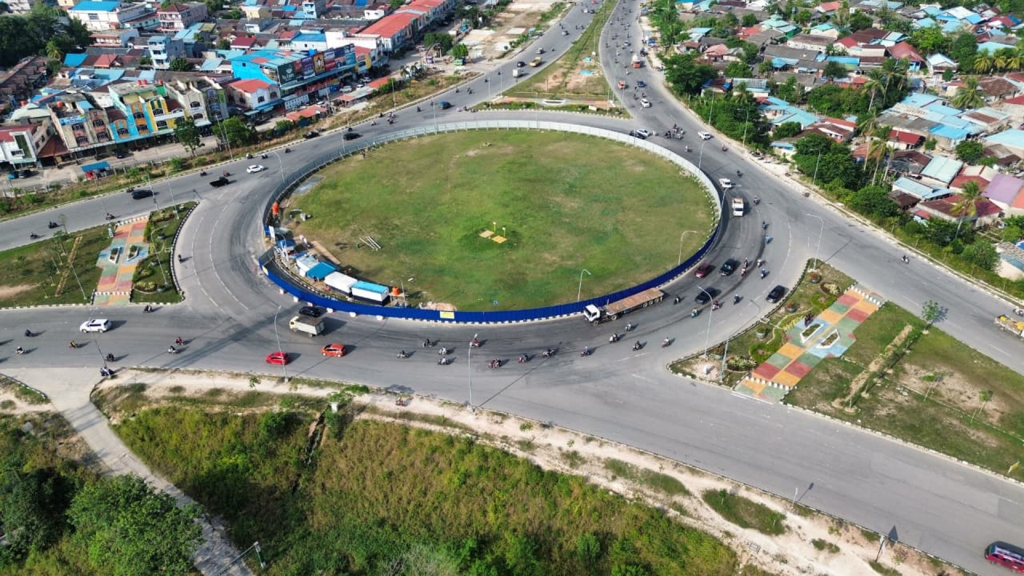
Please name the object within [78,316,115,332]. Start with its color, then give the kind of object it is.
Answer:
white car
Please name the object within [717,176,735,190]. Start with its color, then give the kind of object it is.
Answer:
white vehicle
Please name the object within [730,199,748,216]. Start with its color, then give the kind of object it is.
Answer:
white vehicle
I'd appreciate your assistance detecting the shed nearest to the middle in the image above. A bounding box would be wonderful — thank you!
[351,279,390,306]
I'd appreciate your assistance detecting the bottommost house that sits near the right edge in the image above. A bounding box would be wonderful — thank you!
[994,241,1024,285]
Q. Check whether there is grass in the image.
Yes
